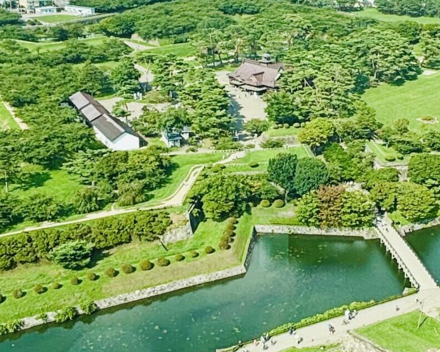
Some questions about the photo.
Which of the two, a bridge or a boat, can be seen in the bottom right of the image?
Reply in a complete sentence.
Visible in the bottom right of the image is a bridge.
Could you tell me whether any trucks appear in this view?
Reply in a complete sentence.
No, I can't see a single truck in this photo.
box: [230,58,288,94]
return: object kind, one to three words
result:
building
